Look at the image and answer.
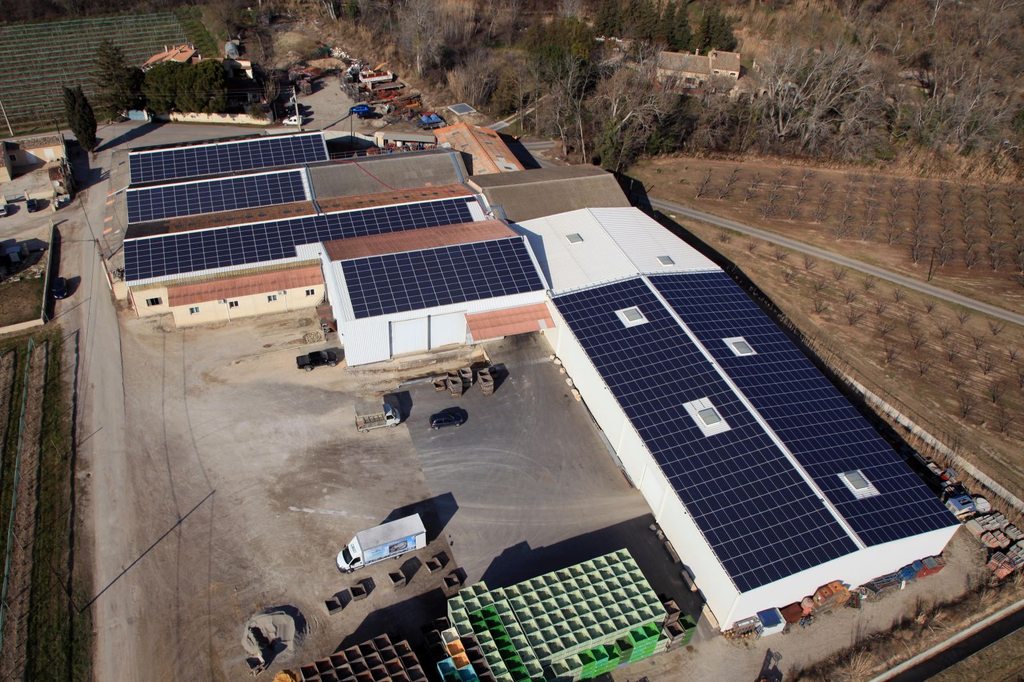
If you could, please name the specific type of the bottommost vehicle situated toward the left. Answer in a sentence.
From above, the bottommost vehicle situated toward the left can be identified as a truck.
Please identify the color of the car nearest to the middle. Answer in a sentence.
From above, the car nearest to the middle appears black.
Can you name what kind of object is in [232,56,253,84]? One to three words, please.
house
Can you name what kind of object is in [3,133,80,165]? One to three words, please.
house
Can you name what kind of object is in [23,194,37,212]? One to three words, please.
car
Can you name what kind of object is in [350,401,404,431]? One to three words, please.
truck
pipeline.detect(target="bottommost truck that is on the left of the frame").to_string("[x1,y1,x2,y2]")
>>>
[333,513,421,573]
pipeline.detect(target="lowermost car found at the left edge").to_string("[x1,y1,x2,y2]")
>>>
[49,272,67,297]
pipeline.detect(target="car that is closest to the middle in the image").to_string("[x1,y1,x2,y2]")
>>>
[428,409,462,429]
